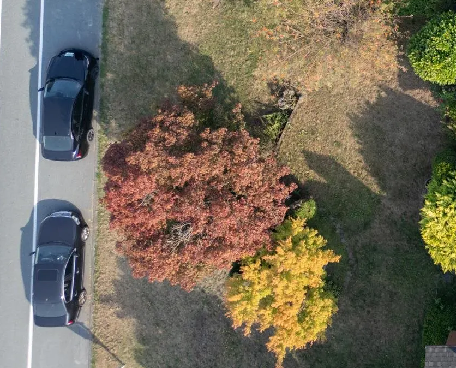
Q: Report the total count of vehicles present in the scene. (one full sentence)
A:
In total, 2 vehicles can be seen.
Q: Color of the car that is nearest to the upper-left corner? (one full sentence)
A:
The color of the car that is nearest to the upper-left corner is black.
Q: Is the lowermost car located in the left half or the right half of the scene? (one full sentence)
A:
The lowermost car is on the left side of the image.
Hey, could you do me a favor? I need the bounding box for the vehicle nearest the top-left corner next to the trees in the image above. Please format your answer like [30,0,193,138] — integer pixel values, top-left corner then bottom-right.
[39,47,100,161]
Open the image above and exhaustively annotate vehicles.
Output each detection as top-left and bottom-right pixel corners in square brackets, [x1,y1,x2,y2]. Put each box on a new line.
[28,210,89,330]
[39,47,100,161]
